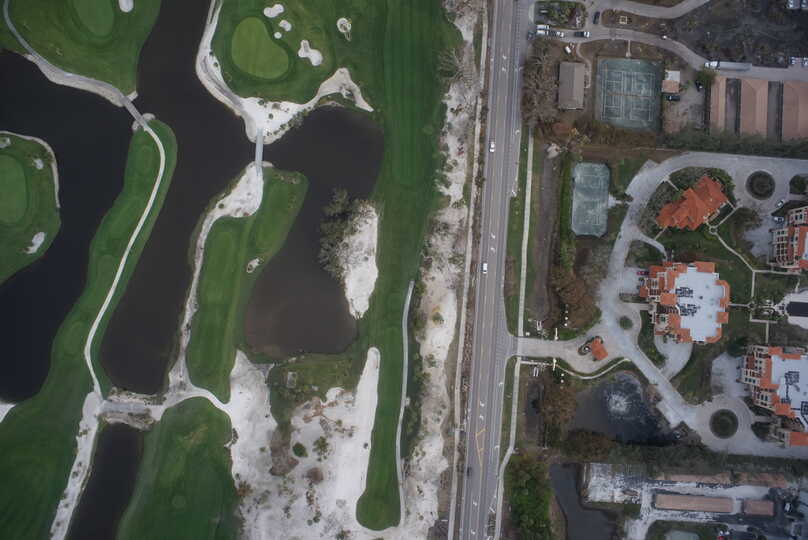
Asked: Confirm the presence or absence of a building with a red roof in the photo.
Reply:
Yes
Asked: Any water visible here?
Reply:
Yes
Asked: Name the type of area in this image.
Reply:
golf course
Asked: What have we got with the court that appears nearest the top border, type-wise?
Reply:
tennis court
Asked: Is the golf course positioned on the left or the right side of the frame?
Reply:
left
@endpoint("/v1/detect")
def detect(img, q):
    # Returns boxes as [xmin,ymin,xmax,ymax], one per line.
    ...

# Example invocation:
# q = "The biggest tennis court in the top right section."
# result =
[596,54,667,131]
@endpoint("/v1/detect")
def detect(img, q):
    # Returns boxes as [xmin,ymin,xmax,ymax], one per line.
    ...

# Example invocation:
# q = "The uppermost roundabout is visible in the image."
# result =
[744,167,778,202]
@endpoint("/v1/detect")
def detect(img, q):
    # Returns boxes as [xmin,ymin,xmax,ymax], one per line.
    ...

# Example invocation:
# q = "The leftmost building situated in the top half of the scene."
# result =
[558,60,585,111]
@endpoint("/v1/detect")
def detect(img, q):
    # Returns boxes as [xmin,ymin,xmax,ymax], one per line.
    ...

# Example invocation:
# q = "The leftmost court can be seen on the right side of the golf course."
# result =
[572,161,612,237]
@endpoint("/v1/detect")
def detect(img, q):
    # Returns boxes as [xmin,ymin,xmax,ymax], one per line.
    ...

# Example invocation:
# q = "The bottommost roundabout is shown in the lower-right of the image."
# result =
[705,404,743,442]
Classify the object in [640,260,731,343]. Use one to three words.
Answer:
building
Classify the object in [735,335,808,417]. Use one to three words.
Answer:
building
